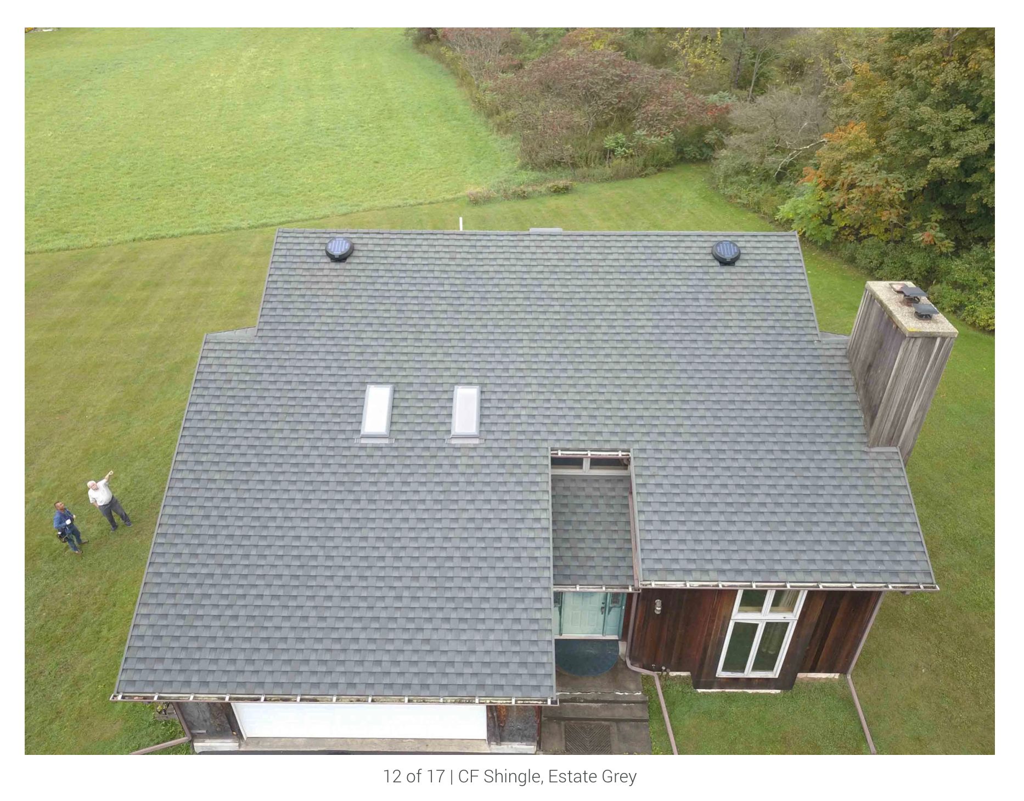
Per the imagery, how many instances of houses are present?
1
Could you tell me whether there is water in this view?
No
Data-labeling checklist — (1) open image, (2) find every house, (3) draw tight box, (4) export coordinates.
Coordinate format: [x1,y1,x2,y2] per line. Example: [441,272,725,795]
[109,216,960,776]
